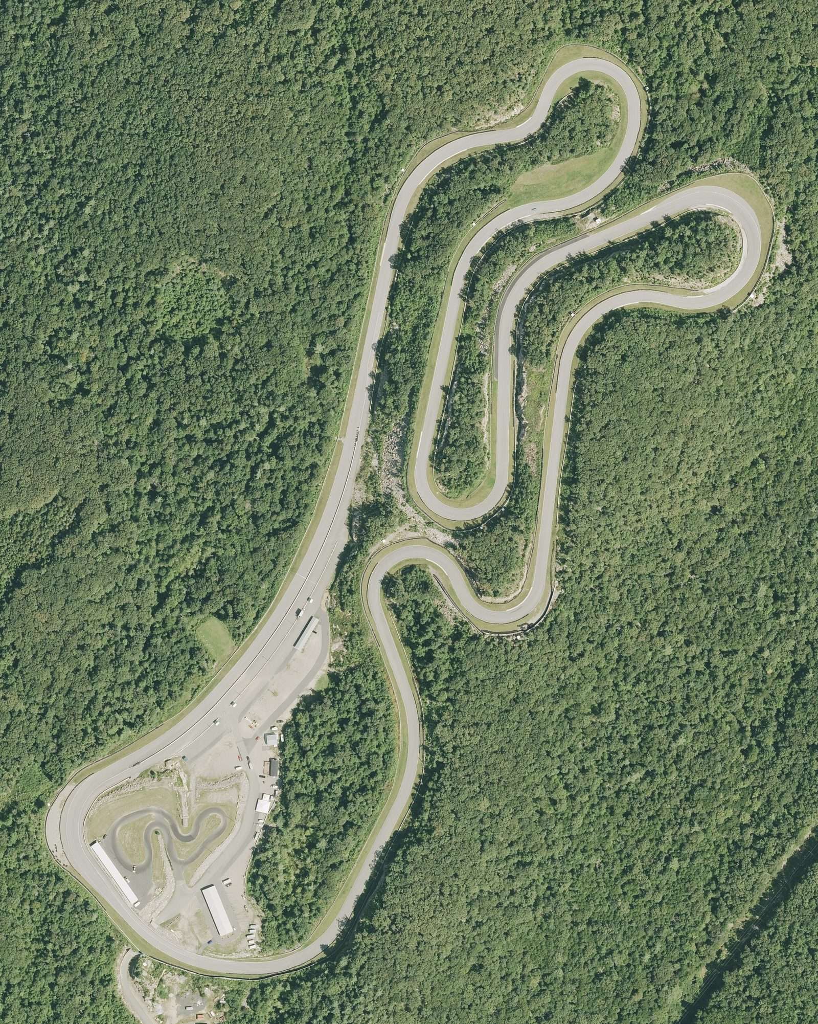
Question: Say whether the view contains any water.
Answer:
No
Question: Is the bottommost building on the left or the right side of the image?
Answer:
left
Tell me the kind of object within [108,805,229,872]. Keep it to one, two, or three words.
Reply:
race track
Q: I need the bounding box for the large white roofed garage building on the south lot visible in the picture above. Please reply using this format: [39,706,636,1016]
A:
[204,889,236,940]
